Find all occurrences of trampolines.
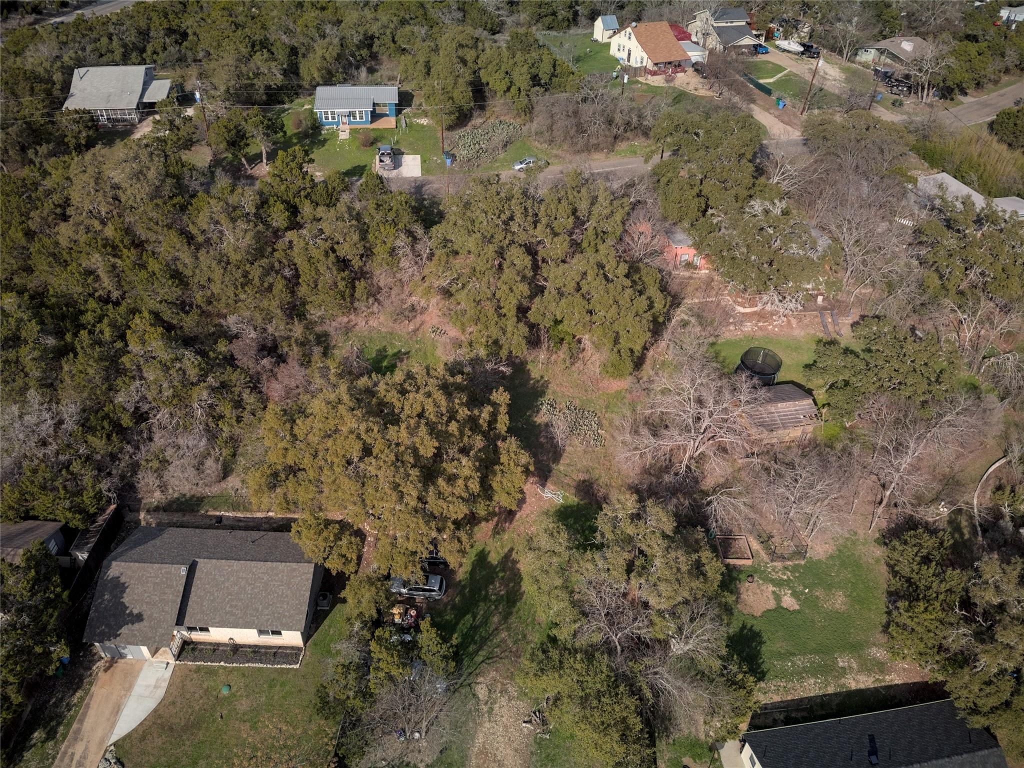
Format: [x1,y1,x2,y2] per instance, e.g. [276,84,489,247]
[737,343,785,389]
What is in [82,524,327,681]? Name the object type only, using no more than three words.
house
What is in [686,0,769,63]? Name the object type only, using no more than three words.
house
